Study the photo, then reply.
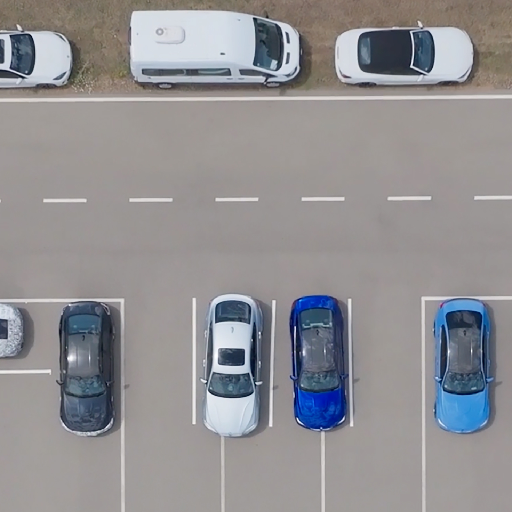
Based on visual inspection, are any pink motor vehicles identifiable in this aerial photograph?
No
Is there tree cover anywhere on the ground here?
No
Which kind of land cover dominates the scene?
paved ground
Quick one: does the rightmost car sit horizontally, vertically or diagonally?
vertically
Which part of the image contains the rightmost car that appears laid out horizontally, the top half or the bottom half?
top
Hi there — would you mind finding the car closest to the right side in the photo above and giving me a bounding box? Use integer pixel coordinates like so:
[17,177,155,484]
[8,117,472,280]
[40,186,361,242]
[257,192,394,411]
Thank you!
[432,298,497,435]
